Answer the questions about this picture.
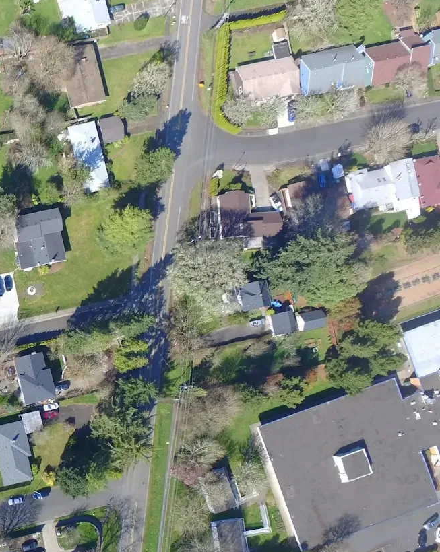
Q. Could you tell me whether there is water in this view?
No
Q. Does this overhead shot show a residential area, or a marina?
residential area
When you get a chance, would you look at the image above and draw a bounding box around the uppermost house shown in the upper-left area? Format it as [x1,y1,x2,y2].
[57,0,111,30]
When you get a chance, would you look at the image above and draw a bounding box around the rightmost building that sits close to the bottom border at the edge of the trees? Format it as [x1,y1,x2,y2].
[251,379,440,549]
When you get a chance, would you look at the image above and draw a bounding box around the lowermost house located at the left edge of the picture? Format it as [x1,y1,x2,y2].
[0,411,43,485]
